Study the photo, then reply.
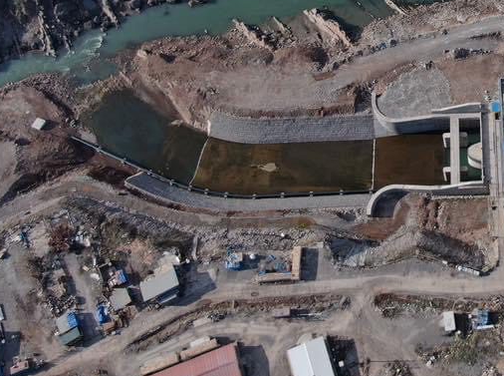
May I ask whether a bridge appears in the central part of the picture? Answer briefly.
No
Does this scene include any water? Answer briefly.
Yes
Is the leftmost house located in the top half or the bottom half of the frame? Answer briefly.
bottom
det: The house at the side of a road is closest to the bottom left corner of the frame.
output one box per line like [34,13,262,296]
[58,312,89,345]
